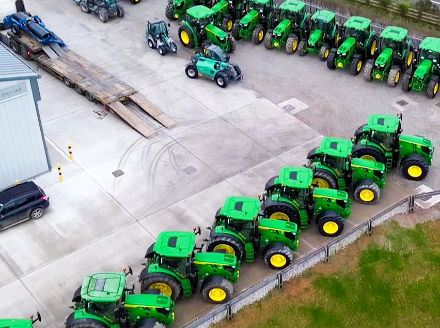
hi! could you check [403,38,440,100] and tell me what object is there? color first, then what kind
green work vehicle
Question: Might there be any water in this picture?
No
